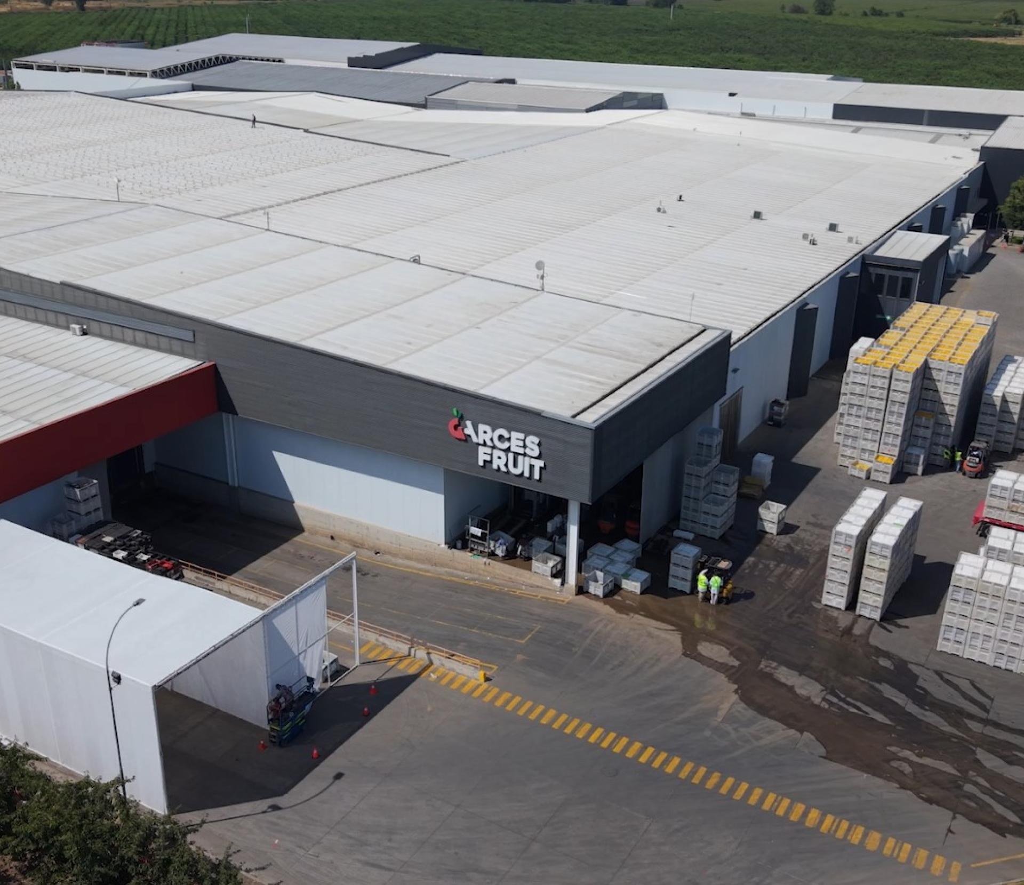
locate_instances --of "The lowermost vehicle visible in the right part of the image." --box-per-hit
[691,557,749,605]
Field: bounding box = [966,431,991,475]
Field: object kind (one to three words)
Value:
work vehicle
